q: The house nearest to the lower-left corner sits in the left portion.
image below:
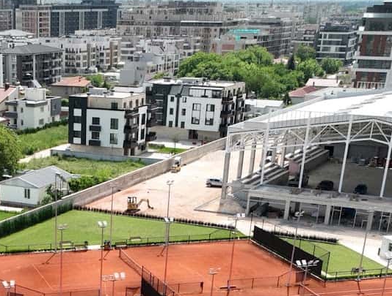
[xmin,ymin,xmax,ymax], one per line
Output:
[0,167,78,210]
